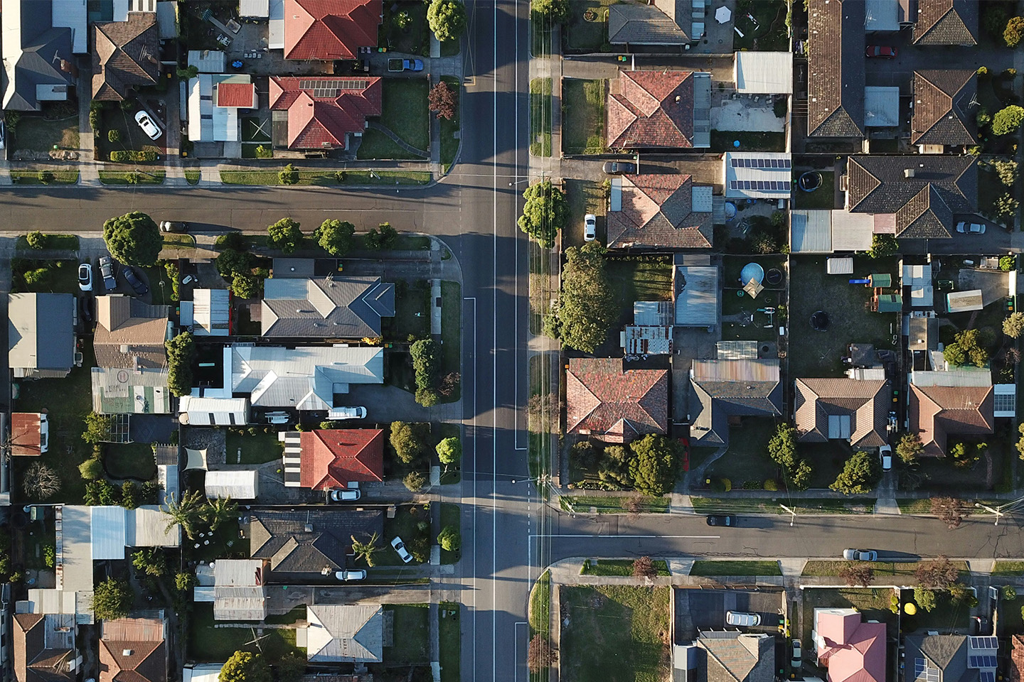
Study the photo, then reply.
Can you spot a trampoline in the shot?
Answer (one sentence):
Yes, this view includes a trampoline.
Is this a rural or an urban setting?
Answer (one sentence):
It looks urban.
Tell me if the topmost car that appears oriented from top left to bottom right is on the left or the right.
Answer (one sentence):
The topmost car that appears oriented from top left to bottom right is on the left side of the image.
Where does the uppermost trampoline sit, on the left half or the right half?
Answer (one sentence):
It is on the right.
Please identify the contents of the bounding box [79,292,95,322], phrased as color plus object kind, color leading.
black car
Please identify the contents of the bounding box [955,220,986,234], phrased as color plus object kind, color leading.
blue car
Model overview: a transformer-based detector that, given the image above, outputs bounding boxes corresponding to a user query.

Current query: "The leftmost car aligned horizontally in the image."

[159,219,191,234]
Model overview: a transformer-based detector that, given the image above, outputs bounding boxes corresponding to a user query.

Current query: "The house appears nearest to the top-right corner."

[899,0,979,48]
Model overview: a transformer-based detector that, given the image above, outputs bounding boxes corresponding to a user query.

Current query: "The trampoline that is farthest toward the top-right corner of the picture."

[798,168,825,192]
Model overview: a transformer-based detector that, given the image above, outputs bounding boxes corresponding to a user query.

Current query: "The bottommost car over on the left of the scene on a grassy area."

[390,537,413,565]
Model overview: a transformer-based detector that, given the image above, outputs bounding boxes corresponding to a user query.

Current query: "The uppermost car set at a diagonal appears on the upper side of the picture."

[135,108,162,141]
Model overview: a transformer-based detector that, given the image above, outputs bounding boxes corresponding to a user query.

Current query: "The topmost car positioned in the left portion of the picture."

[387,56,425,73]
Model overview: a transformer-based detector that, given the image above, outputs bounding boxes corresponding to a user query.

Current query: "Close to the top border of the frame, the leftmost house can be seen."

[0,0,92,112]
